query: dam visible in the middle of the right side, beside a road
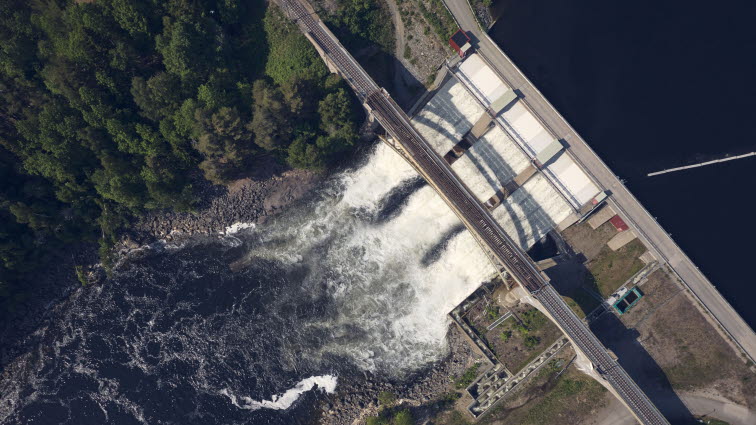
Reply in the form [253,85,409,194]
[405,0,756,373]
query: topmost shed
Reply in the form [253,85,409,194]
[449,30,471,55]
